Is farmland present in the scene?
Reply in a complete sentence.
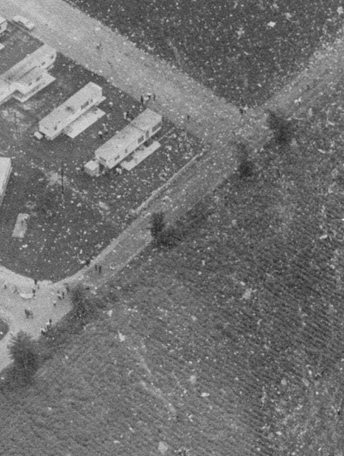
Yes, there is farmland in the image.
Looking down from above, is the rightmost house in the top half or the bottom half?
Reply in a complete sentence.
The top half of the photo is where the rightmost house is.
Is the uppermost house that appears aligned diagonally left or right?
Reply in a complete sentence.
The uppermost house that appears aligned diagonally sits on the left side.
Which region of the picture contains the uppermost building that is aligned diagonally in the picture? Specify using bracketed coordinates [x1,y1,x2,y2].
[0,43,57,103]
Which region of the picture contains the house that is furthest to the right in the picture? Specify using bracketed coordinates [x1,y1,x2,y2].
[95,108,163,169]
